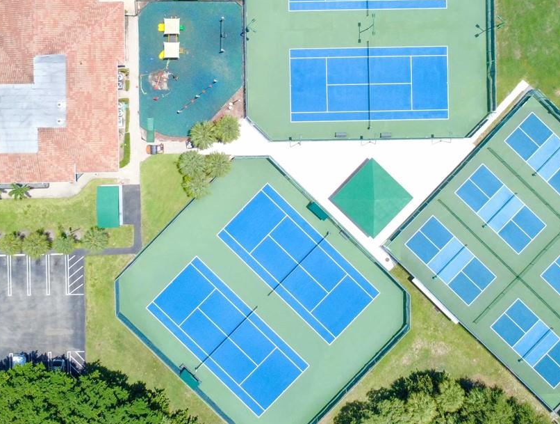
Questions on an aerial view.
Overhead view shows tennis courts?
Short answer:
Yes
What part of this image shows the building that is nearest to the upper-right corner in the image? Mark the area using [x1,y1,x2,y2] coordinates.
[332,158,413,239]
